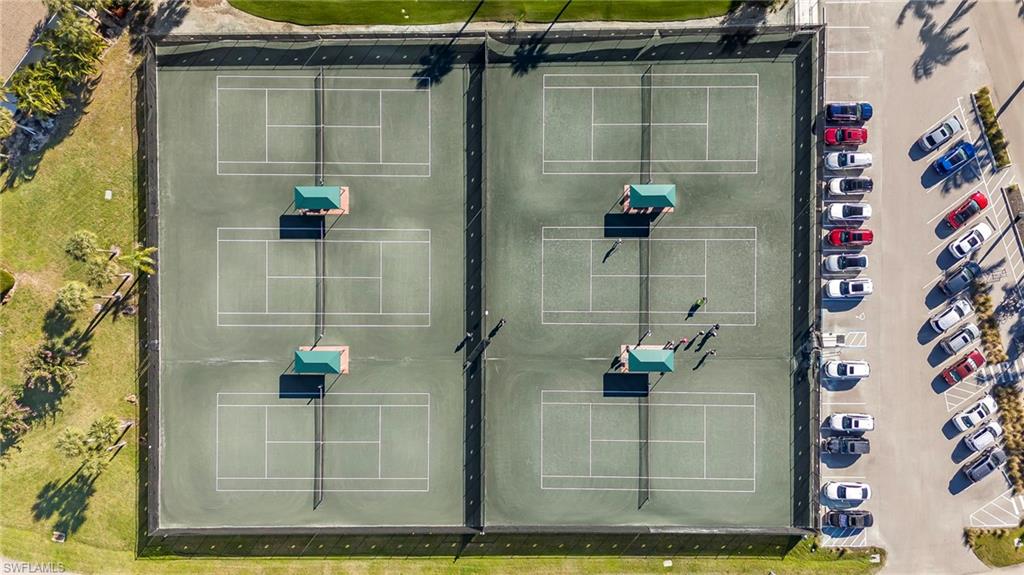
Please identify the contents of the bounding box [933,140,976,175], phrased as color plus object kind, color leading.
blue car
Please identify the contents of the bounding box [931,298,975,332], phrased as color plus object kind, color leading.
white car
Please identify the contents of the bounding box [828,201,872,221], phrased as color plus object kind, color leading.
white car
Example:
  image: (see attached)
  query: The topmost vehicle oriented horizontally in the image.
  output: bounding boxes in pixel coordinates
[825,101,872,122]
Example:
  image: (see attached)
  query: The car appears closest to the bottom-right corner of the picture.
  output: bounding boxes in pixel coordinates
[964,448,1008,482]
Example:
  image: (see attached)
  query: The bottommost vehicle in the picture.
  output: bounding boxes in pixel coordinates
[824,509,872,531]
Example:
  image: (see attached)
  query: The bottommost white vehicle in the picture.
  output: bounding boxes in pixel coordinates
[826,482,870,502]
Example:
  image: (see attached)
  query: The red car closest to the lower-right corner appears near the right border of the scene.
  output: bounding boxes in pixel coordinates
[943,351,987,386]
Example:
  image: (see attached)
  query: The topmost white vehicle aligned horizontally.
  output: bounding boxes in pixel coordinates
[825,150,871,170]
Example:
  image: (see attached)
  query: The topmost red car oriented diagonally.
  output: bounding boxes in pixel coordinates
[946,194,989,229]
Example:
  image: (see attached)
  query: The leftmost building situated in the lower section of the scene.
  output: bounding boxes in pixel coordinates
[295,346,349,374]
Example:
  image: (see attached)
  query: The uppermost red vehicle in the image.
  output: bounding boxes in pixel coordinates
[825,127,868,147]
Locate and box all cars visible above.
[828,201,872,221]
[830,412,875,433]
[964,421,1005,453]
[824,509,872,531]
[826,360,870,380]
[943,351,987,386]
[825,252,868,273]
[964,448,1008,482]
[931,298,975,332]
[920,117,962,152]
[933,140,976,175]
[825,150,871,170]
[828,227,873,247]
[823,436,870,457]
[825,127,868,147]
[946,194,989,229]
[953,398,997,432]
[940,322,983,355]
[828,175,872,196]
[825,101,872,122]
[949,223,991,257]
[826,482,870,502]
[827,278,873,299]
[939,262,982,295]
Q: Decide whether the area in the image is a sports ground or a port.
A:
sports ground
